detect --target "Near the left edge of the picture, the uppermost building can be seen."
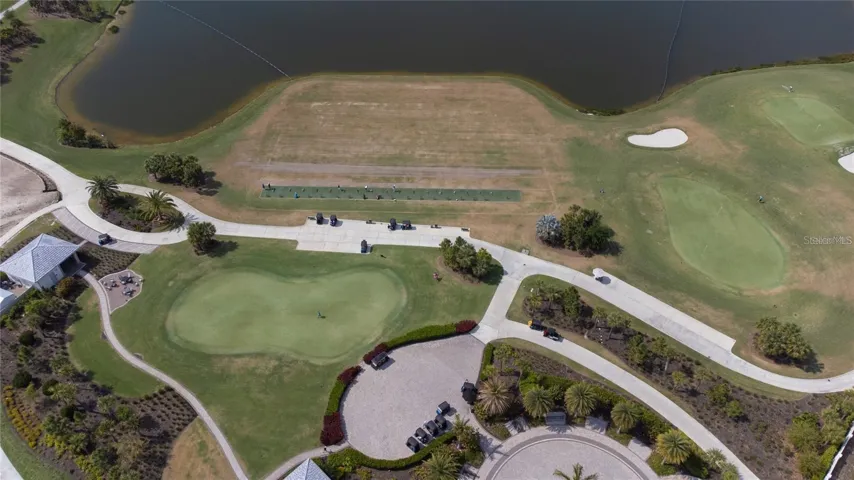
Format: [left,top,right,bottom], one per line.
[0,231,83,293]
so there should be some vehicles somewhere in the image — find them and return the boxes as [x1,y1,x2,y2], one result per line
[405,436,421,456]
[528,316,544,332]
[424,420,440,440]
[414,428,430,447]
[544,324,560,341]
[359,240,368,254]
[315,210,324,223]
[463,380,477,408]
[434,413,449,432]
[329,213,337,227]
[94,233,111,246]
[374,352,389,369]
[389,217,397,230]
[435,400,453,416]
